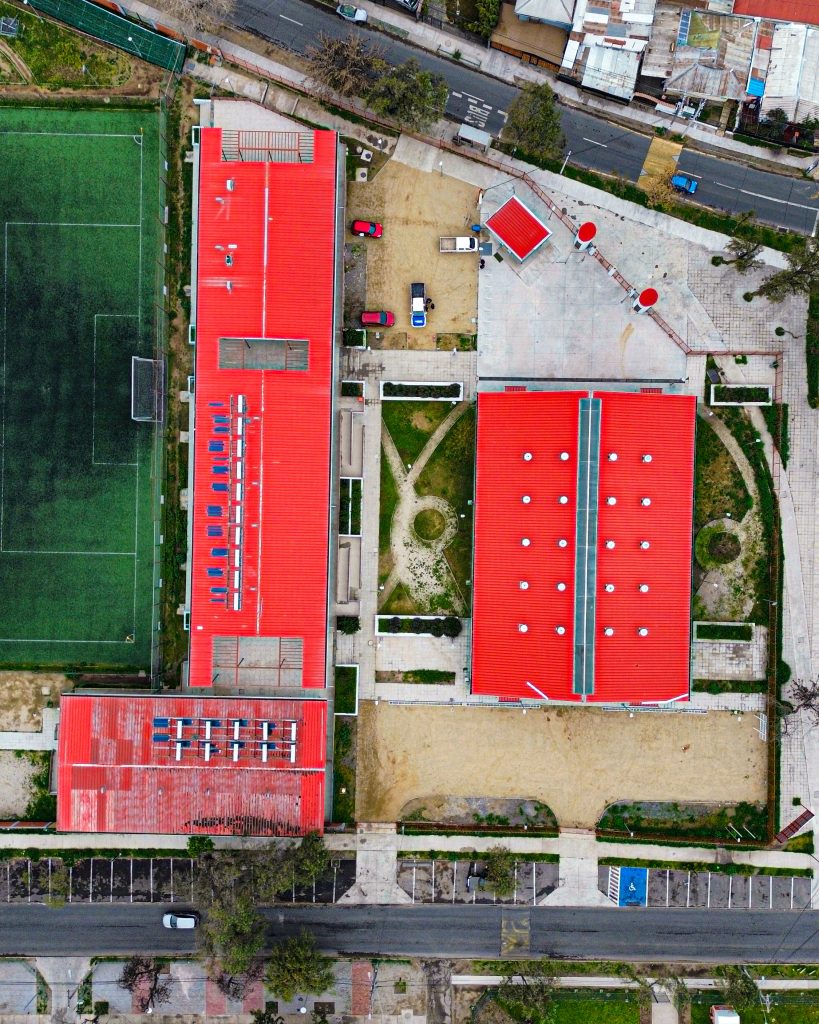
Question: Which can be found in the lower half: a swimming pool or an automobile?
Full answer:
Visible in the lower half is an automobile.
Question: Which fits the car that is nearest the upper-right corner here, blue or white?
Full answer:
In this view, the car that is nearest the upper-right corner is blue.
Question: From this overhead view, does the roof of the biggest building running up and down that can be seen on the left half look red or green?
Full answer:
In this view, the roof of the biggest building running up and down that can be seen on the left half is red.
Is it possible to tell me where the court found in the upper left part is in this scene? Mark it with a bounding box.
[21,0,185,71]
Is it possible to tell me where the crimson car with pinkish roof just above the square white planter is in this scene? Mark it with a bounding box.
[361,309,395,327]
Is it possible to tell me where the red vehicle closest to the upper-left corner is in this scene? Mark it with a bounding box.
[351,220,383,239]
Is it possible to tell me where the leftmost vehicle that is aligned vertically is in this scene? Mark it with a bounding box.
[410,283,427,327]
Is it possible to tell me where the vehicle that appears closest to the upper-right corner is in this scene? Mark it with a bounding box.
[669,176,698,196]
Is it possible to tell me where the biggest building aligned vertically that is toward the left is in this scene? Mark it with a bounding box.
[187,127,339,690]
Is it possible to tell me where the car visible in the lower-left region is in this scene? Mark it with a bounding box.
[164,910,200,929]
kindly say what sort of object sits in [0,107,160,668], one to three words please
soccer field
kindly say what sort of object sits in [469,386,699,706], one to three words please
building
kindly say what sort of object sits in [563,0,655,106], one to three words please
house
